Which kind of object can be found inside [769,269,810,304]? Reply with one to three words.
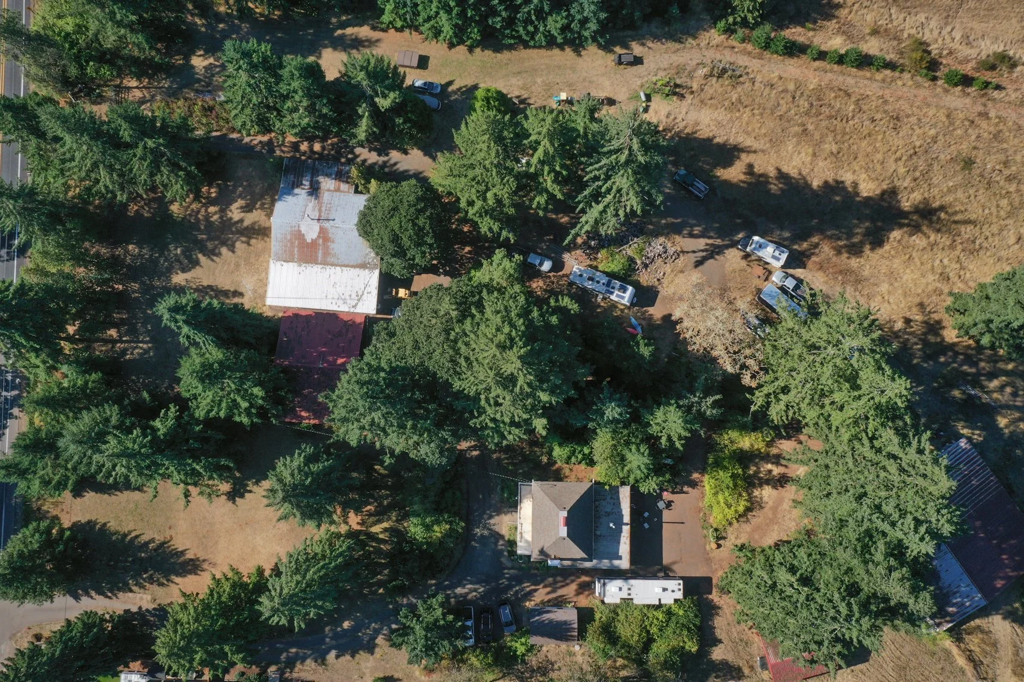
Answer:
truck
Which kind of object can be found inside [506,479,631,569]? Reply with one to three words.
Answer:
house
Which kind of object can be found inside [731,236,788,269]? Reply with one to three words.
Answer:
van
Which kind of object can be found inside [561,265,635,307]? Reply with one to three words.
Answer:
trailer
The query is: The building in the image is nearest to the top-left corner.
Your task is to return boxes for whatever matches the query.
[265,158,385,314]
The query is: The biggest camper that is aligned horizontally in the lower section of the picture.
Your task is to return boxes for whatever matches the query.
[593,565,684,603]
